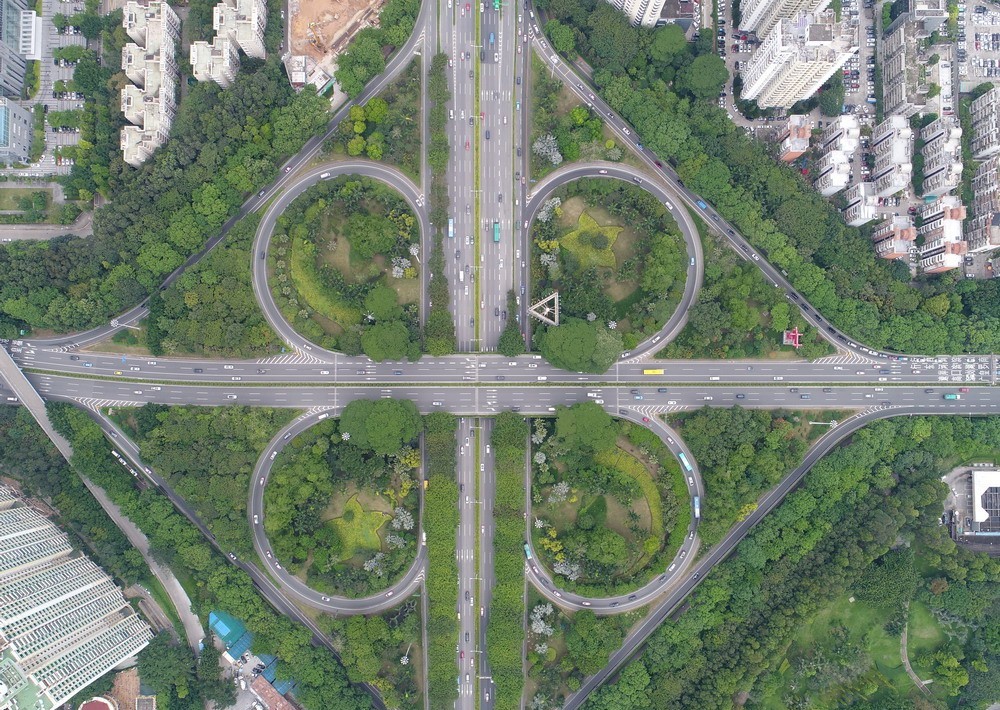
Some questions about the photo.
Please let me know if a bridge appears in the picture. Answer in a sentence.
Yes, there is a bridge in the image.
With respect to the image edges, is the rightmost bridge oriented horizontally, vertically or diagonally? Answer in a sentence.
I'd say the rightmost bridge is aligned horizontally in the picture.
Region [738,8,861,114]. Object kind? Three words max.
building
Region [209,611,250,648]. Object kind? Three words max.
shed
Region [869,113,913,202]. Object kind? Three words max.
building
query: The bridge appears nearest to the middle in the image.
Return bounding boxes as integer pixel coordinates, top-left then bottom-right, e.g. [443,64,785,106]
[408,355,541,416]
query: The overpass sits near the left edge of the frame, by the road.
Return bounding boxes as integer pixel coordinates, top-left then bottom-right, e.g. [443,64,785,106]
[0,344,208,672]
